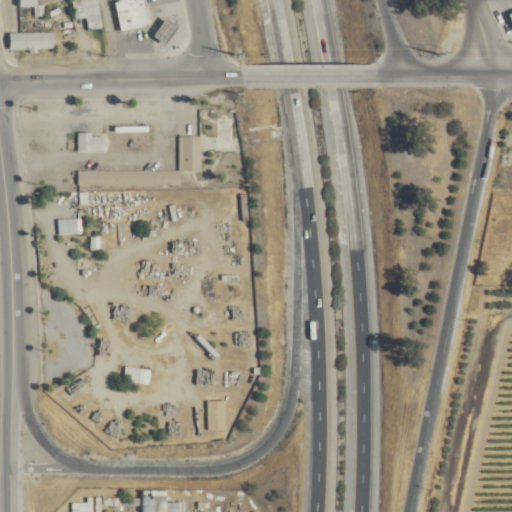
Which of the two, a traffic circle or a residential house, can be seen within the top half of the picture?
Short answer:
residential house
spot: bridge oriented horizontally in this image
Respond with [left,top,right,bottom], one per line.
[242,64,378,86]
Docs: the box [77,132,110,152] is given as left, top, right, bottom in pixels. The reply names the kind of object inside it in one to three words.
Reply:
house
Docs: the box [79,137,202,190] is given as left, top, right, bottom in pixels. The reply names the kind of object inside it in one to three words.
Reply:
shed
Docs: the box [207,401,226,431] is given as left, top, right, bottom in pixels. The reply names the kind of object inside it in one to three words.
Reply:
barn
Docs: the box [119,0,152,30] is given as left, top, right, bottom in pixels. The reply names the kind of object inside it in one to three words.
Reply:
building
